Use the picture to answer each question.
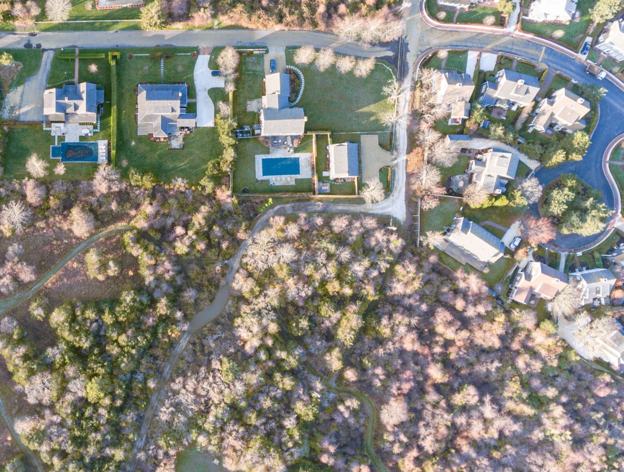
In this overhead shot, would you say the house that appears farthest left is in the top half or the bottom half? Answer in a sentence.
The house that appears farthest left is in the top half of the image.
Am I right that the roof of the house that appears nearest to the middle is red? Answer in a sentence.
No, from above the roof of the house that appears nearest to the middle looks white.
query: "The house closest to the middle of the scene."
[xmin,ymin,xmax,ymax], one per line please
[322,142,359,178]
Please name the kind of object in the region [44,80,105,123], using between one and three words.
house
